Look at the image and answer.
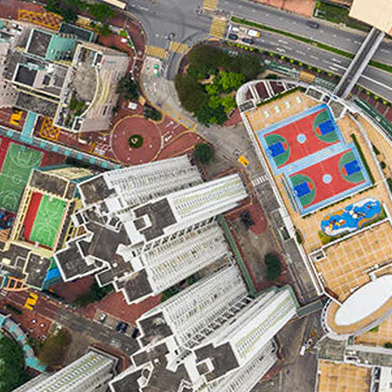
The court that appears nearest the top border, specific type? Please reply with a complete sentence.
The court that appears nearest the top border is a basketball court.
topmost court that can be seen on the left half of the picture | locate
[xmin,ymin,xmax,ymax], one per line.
[0,141,44,214]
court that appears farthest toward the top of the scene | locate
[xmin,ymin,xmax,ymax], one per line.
[260,103,346,175]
